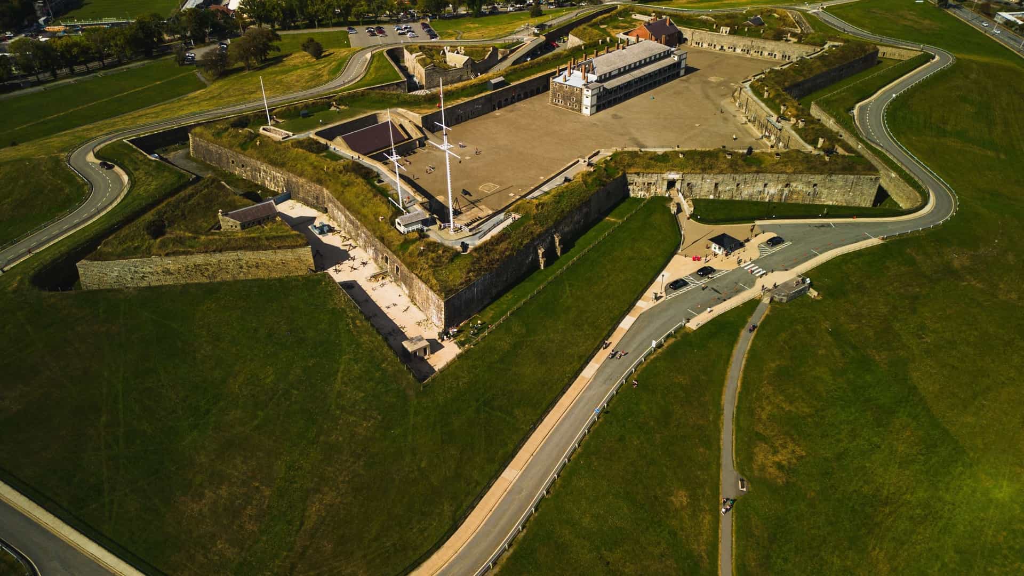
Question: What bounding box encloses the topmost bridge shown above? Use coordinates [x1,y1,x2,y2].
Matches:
[471,37,544,81]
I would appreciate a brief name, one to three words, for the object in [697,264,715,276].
vehicle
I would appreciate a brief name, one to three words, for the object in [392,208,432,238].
shed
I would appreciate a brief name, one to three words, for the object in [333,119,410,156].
building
